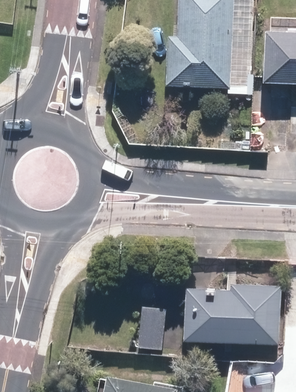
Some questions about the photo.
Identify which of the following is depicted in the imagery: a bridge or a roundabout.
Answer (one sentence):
Of the two, only a roundabout appears.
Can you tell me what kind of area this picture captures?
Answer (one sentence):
What you see here is a residential area.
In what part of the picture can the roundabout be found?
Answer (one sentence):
The roundabout sits in the left section of the image.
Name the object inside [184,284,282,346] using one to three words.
house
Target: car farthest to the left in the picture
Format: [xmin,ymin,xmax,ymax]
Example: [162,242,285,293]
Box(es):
[4,118,32,132]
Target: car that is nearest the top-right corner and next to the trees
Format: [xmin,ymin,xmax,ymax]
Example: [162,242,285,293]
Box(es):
[153,28,168,56]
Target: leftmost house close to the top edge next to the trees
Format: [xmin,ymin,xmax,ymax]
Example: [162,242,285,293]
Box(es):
[166,0,234,88]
